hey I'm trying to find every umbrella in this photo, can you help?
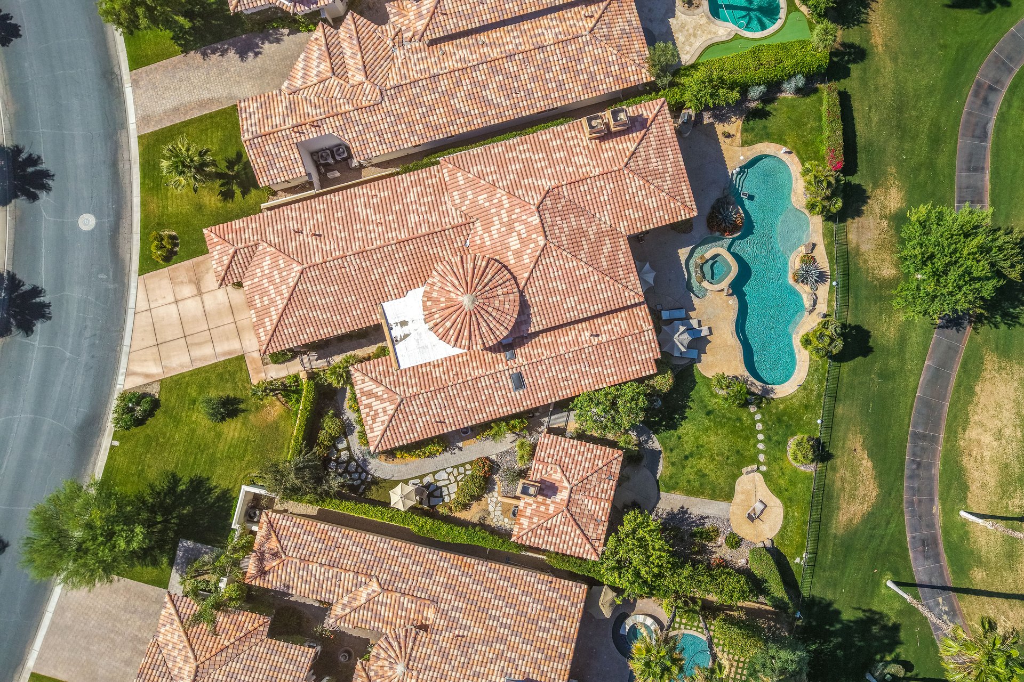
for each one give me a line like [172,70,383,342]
[635,259,657,291]
[391,482,416,511]
[585,587,620,620]
[657,321,694,357]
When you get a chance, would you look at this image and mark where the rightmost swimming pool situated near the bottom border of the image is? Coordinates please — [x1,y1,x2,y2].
[654,628,716,682]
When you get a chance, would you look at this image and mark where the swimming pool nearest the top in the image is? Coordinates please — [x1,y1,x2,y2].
[690,0,788,64]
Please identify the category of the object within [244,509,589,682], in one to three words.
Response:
house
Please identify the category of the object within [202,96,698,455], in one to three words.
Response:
house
